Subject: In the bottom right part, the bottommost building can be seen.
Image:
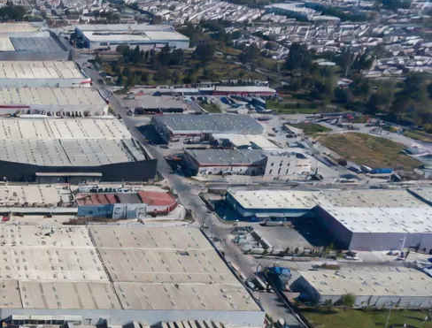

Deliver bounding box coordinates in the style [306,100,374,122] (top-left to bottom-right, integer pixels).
[294,269,432,310]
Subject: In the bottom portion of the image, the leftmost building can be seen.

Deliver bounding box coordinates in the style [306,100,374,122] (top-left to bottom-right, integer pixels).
[0,185,77,216]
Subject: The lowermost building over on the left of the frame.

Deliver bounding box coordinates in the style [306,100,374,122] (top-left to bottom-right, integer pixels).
[0,225,263,328]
